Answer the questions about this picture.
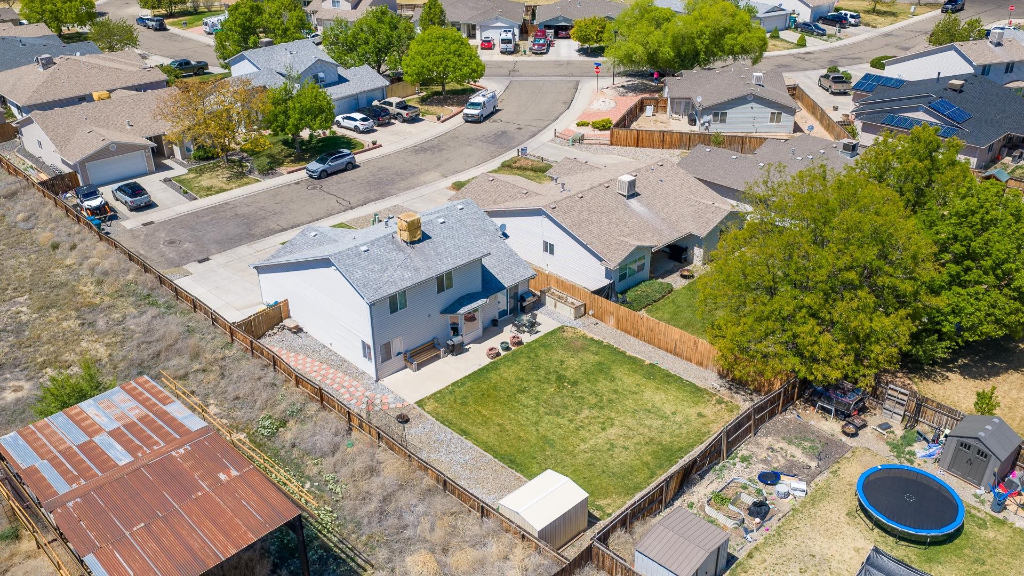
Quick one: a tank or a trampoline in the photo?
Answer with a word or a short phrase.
trampoline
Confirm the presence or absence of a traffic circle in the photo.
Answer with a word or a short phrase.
No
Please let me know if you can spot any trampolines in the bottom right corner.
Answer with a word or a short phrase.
Yes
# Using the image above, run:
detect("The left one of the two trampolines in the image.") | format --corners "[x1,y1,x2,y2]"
[757,466,779,483]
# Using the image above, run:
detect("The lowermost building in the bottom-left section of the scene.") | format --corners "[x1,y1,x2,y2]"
[0,379,307,576]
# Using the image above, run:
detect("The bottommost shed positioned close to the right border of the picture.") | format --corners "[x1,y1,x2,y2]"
[936,413,1021,493]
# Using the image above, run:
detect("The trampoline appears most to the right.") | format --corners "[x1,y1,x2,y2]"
[850,464,965,550]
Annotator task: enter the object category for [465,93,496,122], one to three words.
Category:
van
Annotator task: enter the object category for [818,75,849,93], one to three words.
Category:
vehicle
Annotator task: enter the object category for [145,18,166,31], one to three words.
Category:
vehicle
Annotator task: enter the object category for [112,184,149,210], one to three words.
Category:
car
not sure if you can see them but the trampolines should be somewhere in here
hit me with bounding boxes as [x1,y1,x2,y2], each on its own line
[850,464,965,550]
[757,466,779,483]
